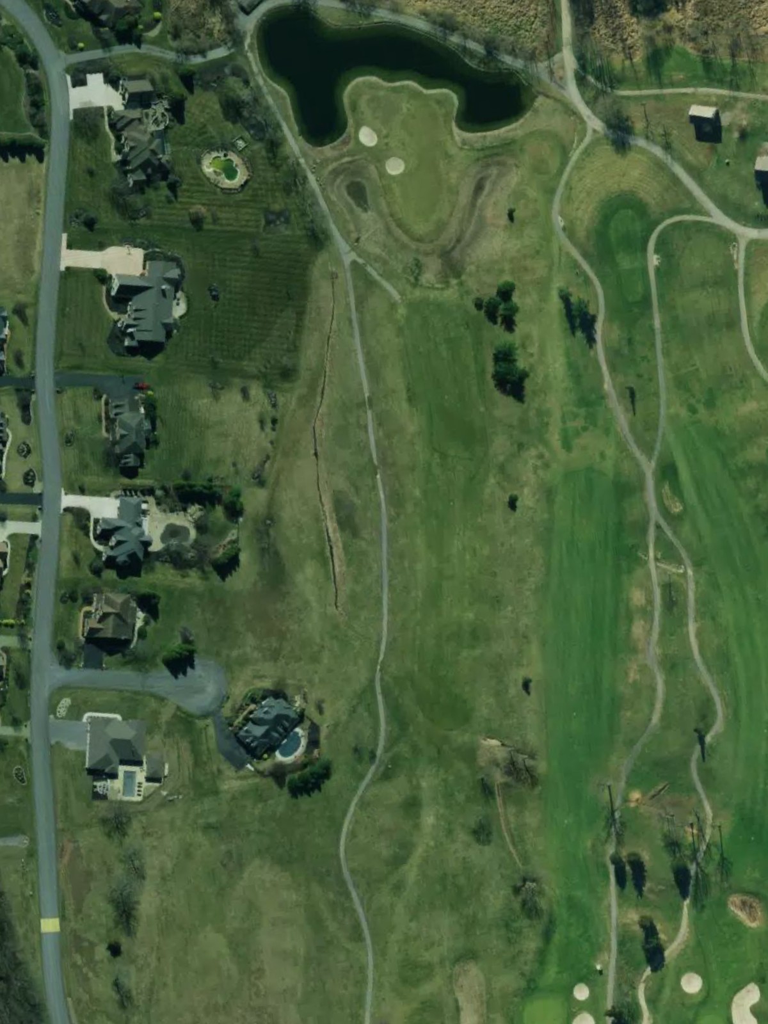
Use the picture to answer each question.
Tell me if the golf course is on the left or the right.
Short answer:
right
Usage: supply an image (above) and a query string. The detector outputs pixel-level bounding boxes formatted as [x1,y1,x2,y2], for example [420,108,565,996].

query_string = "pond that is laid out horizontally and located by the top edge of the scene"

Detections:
[260,6,531,144]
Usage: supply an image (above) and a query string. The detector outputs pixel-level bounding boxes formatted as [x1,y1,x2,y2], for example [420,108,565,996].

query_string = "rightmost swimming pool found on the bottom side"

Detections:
[277,730,302,759]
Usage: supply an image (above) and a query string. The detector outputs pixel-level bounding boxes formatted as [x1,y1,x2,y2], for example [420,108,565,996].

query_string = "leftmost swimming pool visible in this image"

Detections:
[122,772,137,797]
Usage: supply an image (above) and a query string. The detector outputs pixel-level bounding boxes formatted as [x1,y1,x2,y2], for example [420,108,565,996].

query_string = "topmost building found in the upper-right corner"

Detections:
[685,106,718,126]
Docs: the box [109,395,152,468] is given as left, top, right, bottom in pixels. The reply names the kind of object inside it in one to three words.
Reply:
house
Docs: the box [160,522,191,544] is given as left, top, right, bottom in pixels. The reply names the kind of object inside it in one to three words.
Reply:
swimming pool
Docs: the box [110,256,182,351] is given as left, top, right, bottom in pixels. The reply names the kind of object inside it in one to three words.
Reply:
house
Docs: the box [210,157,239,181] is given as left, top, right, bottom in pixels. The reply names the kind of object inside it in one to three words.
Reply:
swimming pool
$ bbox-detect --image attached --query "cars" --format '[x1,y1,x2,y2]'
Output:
[245,763,255,771]
[137,383,147,388]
